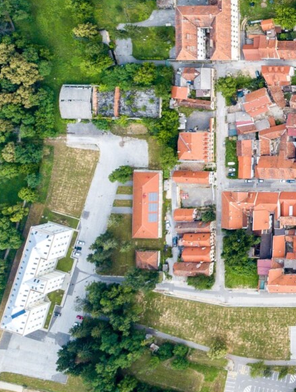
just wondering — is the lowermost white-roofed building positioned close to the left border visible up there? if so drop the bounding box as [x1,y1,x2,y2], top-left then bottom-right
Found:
[0,222,70,336]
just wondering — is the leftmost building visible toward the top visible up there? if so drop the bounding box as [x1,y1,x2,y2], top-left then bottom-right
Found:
[59,84,96,119]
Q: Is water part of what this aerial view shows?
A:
No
